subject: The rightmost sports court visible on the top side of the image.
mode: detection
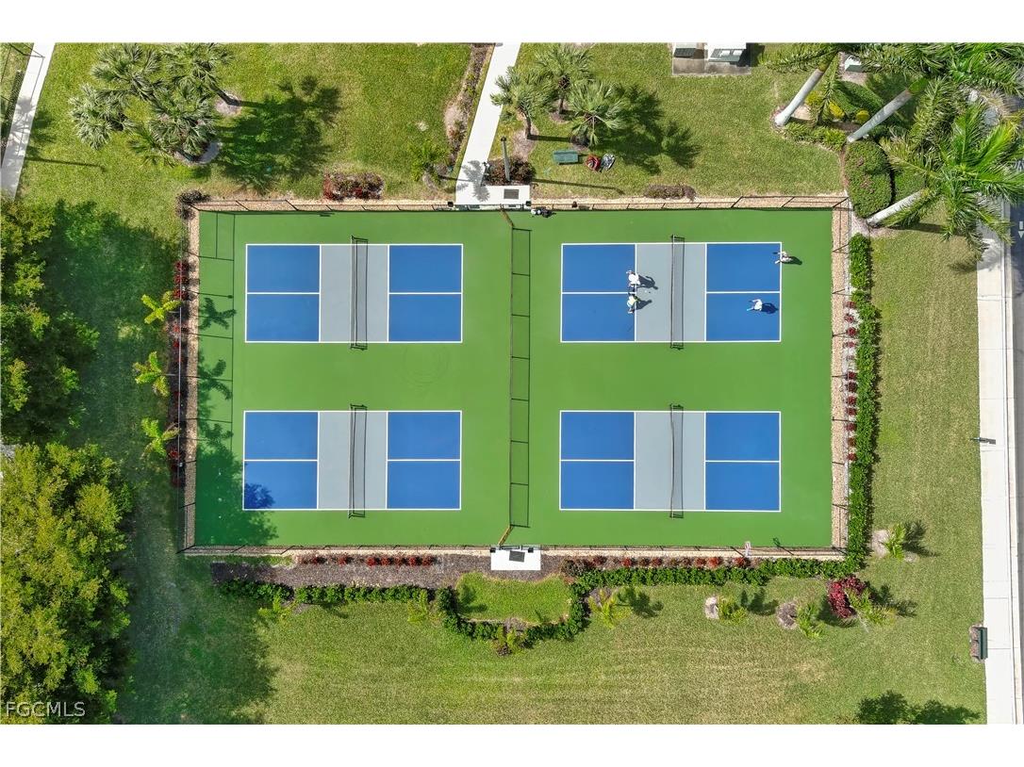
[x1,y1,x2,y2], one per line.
[561,242,781,343]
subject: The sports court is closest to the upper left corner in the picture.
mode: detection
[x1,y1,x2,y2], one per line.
[245,243,462,343]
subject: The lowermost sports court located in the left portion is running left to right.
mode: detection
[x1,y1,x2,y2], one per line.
[243,410,462,511]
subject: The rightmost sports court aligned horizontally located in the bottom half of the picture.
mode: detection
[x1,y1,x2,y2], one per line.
[561,411,782,512]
